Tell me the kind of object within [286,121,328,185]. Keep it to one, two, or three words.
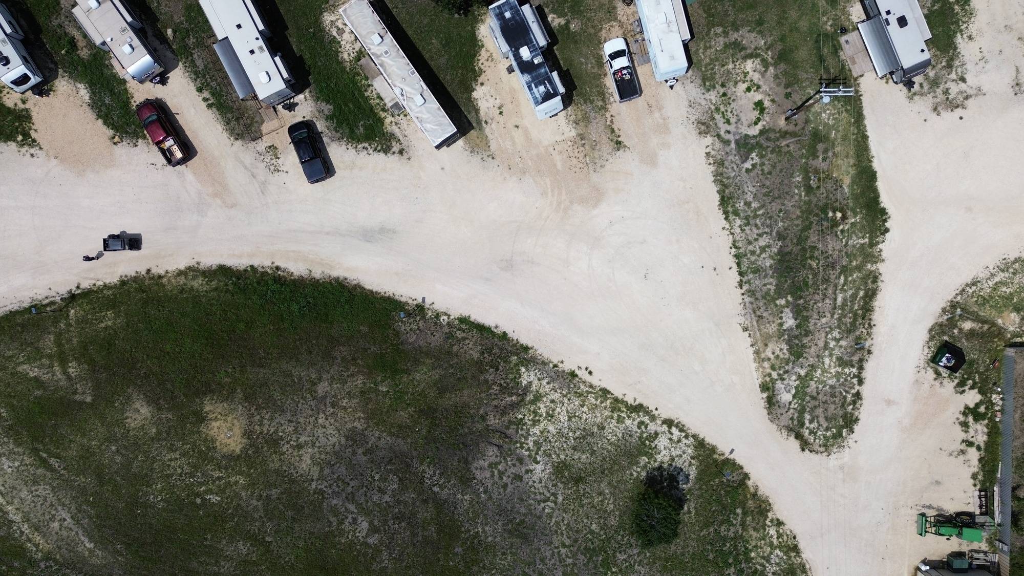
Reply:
truck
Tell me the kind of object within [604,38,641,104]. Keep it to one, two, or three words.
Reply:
truck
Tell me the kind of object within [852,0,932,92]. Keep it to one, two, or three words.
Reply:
trailer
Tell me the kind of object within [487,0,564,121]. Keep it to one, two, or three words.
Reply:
trailer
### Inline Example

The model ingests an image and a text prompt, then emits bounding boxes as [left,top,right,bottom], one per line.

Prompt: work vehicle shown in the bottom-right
[912,510,982,543]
